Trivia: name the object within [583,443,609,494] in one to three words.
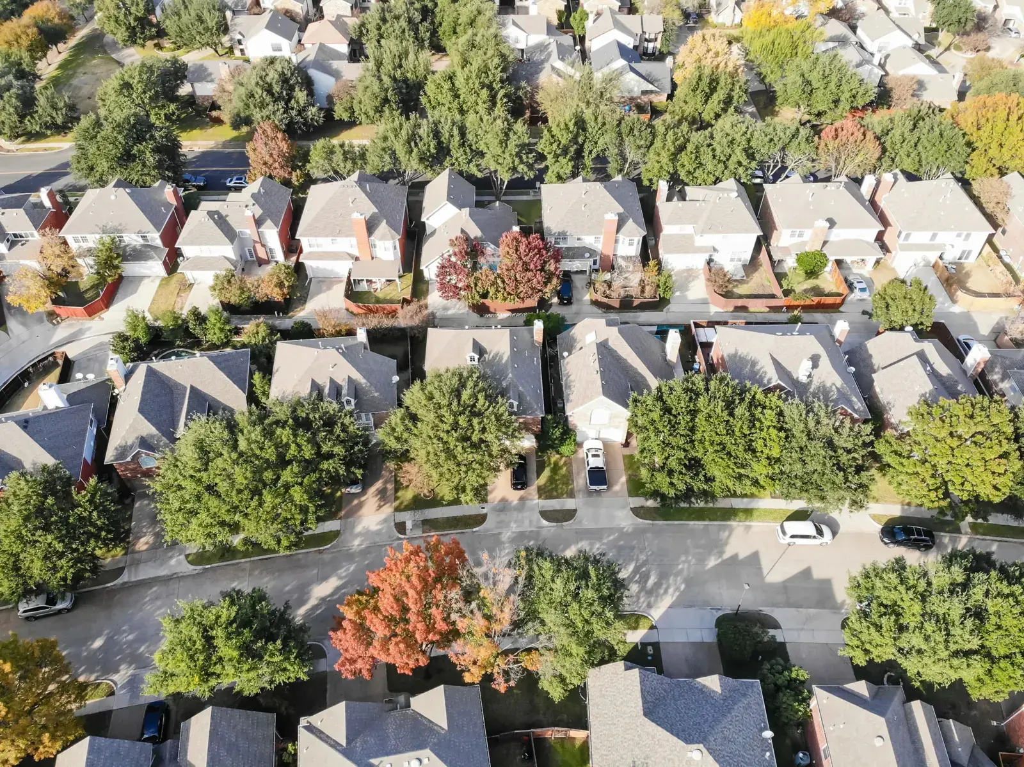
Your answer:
truck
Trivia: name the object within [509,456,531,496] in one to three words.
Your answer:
car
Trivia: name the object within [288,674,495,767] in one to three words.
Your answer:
house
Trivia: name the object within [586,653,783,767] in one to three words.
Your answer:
house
